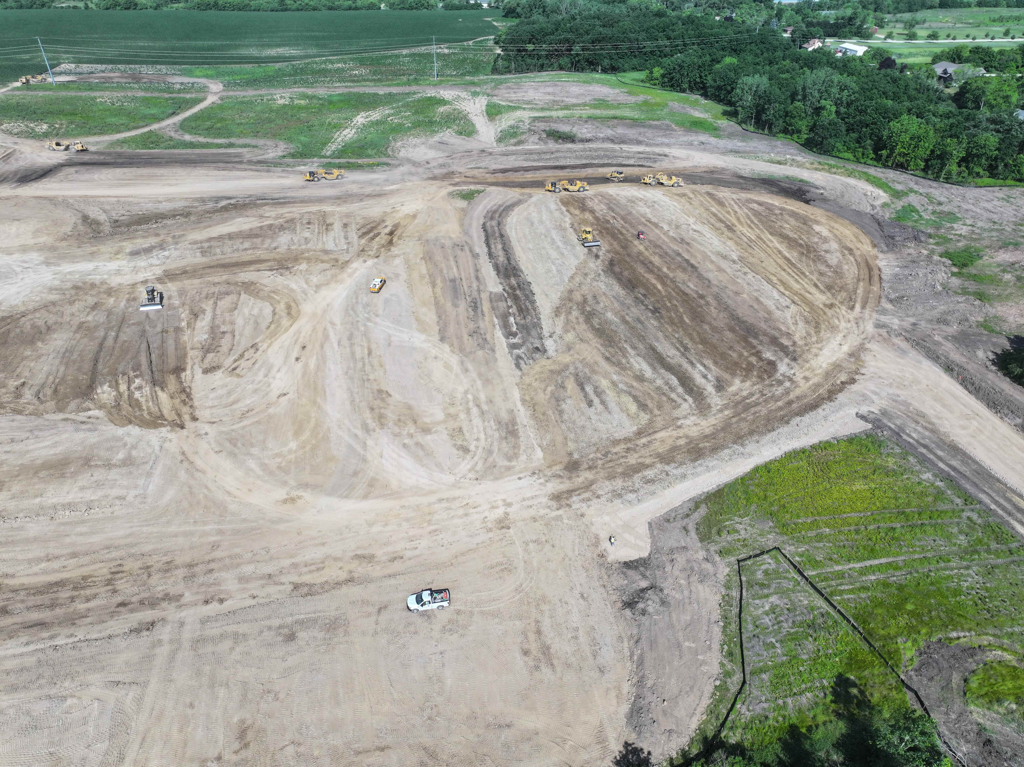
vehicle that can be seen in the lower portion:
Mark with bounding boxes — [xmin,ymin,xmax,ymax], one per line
[404,588,453,613]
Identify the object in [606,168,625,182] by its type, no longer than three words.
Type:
work vehicle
